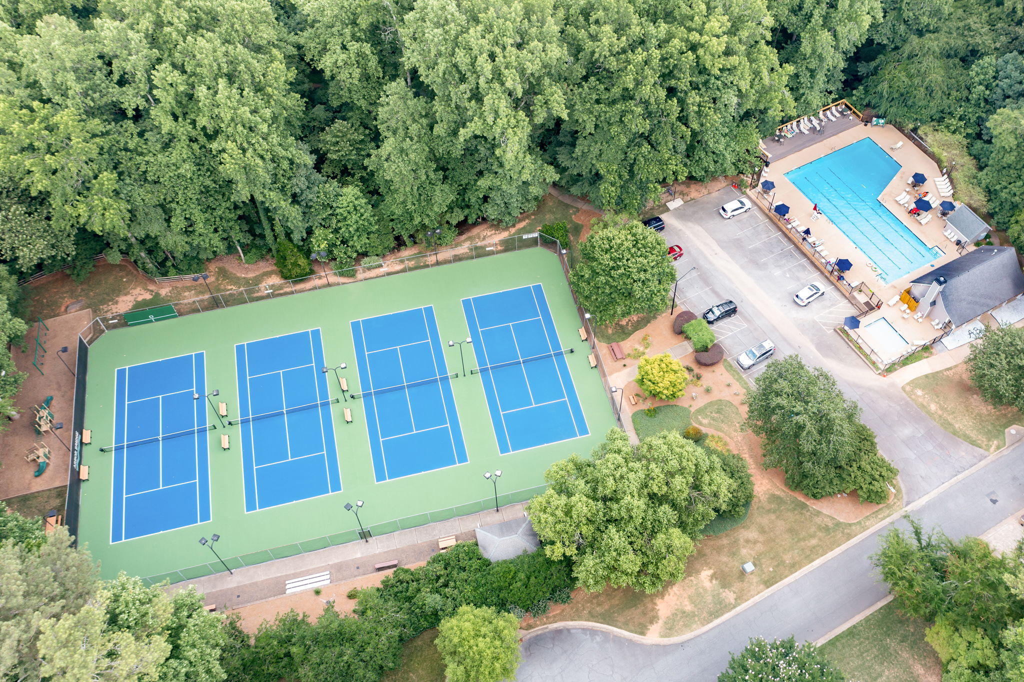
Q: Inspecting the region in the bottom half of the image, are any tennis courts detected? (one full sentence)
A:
Yes, a tennis court can be seen in the bottom half of the image.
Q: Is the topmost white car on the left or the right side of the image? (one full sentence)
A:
The topmost white car sits on the right side.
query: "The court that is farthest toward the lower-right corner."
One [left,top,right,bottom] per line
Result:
[461,283,590,455]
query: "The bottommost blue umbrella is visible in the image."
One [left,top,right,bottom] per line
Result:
[841,315,862,336]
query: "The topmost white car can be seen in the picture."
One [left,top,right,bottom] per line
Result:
[720,199,754,219]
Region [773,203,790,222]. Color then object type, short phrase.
blue umbrella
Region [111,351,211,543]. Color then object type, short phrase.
blue tennis court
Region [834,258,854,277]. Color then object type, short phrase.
blue umbrella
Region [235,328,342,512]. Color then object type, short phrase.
blue tennis court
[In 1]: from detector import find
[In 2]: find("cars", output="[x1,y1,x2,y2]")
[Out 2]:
[638,216,666,234]
[738,341,777,370]
[795,282,828,307]
[655,245,686,266]
[720,199,754,219]
[703,300,741,325]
